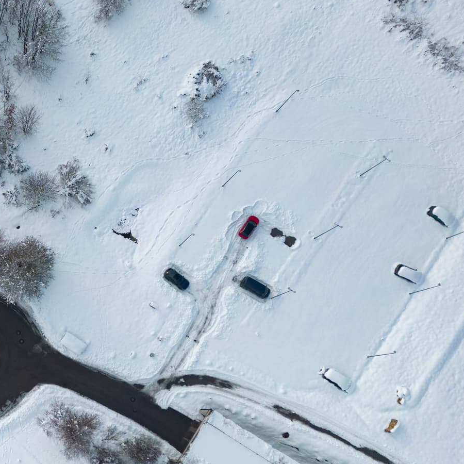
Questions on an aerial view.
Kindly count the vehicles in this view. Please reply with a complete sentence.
In total, there are 6 vehicles in the scene.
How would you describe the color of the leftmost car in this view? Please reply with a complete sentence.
In this view, the leftmost car is black.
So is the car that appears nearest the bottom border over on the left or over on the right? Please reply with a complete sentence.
The car that appears nearest the bottom border sits on the right side.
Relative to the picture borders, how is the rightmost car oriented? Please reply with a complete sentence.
The rightmost car has been laid out on a diagonal relative to the frame.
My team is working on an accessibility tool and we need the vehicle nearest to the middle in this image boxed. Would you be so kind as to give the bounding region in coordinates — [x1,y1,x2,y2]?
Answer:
[239,214,259,240]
